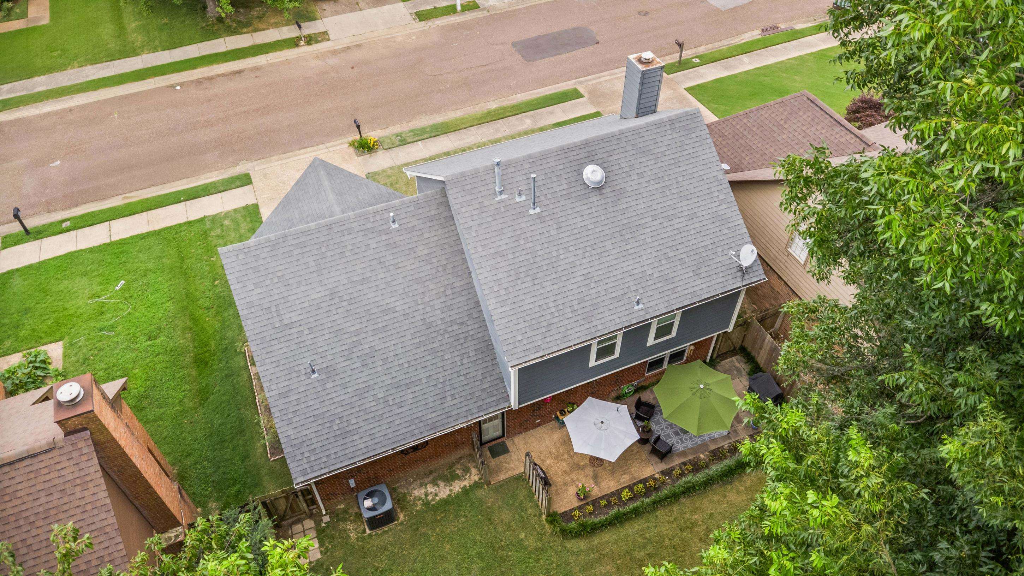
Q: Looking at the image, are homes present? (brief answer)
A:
Yes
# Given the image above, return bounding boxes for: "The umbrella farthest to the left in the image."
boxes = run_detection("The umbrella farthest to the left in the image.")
[563,397,640,467]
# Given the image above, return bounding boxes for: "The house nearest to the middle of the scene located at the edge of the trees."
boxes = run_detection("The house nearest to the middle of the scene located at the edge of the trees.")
[219,50,766,511]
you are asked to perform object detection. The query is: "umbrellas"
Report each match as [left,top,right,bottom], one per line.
[652,362,744,441]
[563,397,640,467]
